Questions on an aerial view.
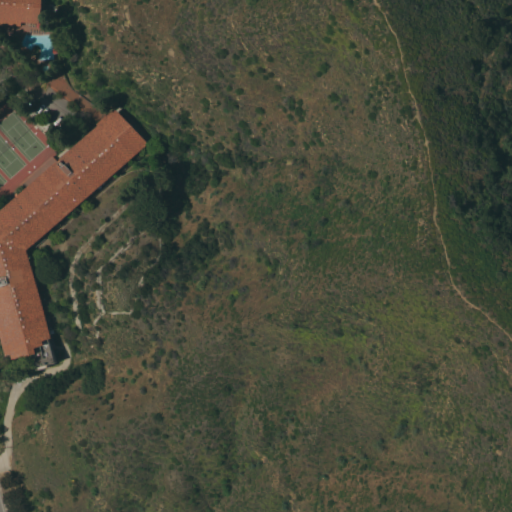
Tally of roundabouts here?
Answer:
none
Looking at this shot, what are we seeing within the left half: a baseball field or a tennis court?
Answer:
tennis court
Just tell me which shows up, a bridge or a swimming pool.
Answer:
swimming pool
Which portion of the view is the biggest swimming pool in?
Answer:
top left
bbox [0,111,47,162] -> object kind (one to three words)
tennis court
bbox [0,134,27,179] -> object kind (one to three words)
tennis court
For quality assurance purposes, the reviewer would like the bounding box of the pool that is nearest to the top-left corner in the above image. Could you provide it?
[22,34,55,62]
